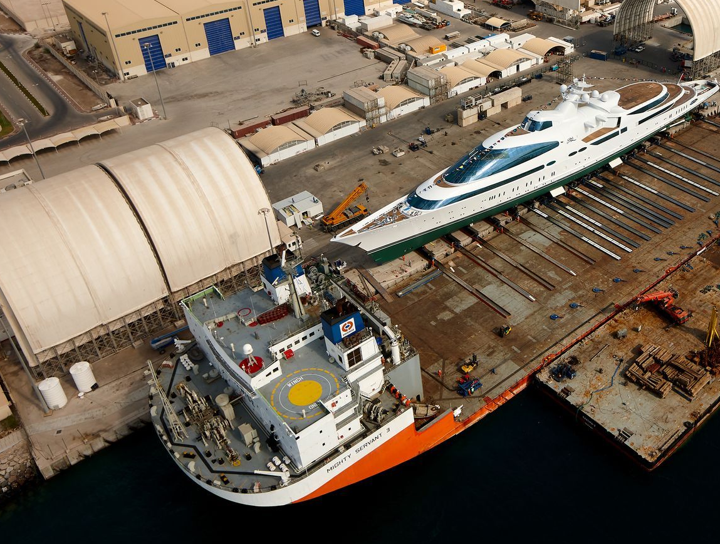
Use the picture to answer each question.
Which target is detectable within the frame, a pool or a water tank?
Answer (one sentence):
Visible in the photo is a water tank.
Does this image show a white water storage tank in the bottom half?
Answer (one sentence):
Yes, you'll find a white water storage tank in the bottom half.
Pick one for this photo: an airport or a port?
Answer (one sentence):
This looks like a port.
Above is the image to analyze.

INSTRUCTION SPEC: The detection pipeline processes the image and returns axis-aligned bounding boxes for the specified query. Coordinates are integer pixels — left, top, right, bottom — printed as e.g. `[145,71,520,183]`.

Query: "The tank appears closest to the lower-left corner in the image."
[28,374,63,410]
